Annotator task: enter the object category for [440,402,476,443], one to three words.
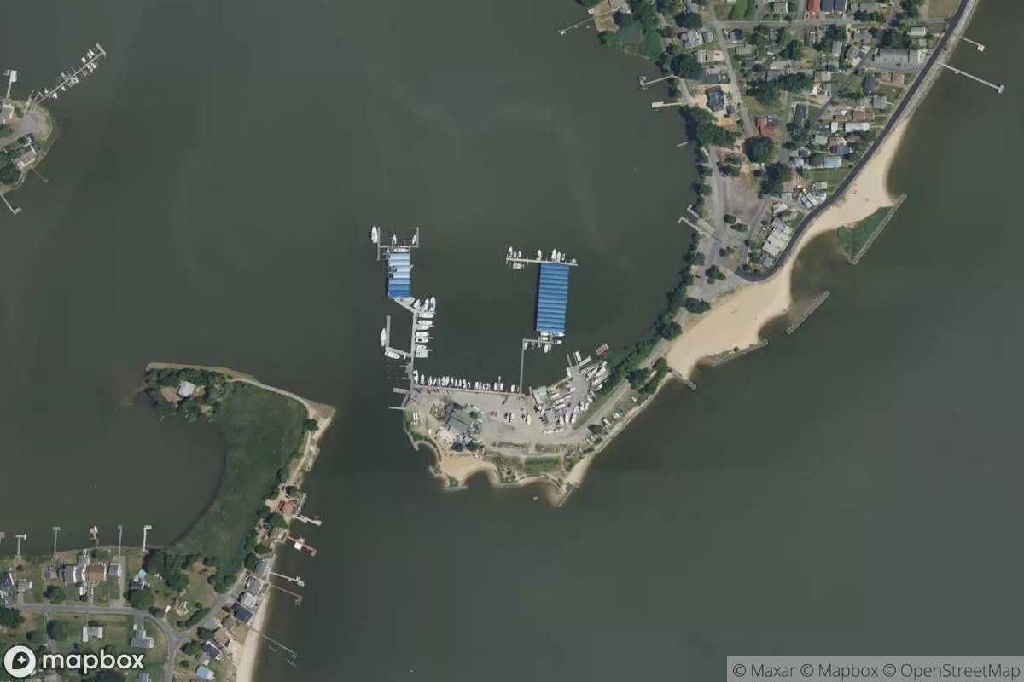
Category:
building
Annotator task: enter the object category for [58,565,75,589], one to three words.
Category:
house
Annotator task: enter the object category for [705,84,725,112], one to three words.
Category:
house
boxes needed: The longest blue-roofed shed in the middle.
[537,263,571,332]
